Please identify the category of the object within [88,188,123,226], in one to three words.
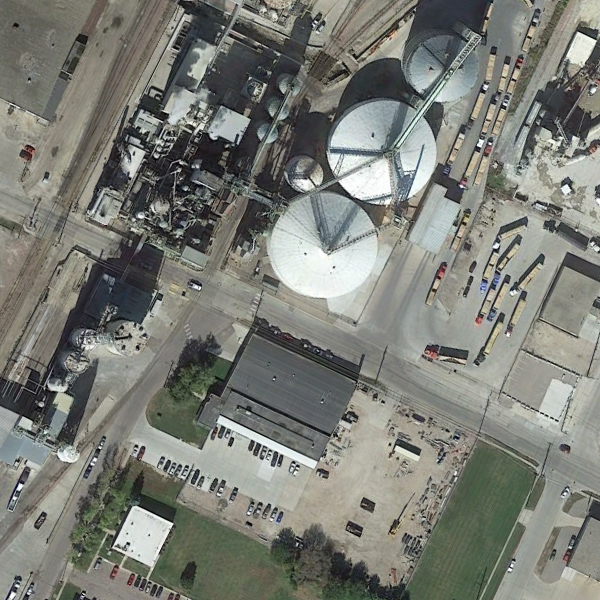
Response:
building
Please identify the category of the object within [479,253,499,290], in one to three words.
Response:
vehicle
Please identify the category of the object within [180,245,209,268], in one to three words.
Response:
shed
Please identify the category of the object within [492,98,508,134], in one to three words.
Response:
vehicle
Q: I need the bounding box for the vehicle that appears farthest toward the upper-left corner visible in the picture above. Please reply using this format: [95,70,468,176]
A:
[21,142,35,161]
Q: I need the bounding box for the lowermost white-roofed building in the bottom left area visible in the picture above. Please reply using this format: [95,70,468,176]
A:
[111,506,173,566]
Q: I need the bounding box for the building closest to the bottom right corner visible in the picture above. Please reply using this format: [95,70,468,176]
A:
[567,515,600,582]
